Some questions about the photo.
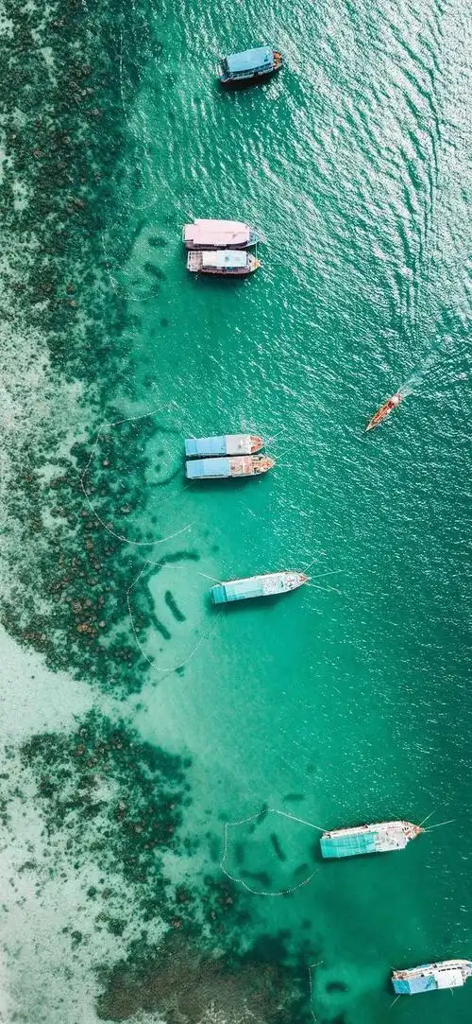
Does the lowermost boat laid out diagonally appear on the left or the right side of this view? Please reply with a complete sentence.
The lowermost boat laid out diagonally appears in the right half of the scene.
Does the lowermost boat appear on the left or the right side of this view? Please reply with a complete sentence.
It is on the right.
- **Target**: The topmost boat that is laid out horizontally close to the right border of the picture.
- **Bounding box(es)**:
[304,812,456,860]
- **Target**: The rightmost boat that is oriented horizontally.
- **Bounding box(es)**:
[387,955,472,1008]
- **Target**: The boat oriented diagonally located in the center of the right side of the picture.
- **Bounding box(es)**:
[367,384,409,431]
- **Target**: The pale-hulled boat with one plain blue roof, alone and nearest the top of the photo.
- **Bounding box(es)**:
[218,51,290,89]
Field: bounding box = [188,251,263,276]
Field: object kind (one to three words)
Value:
boat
